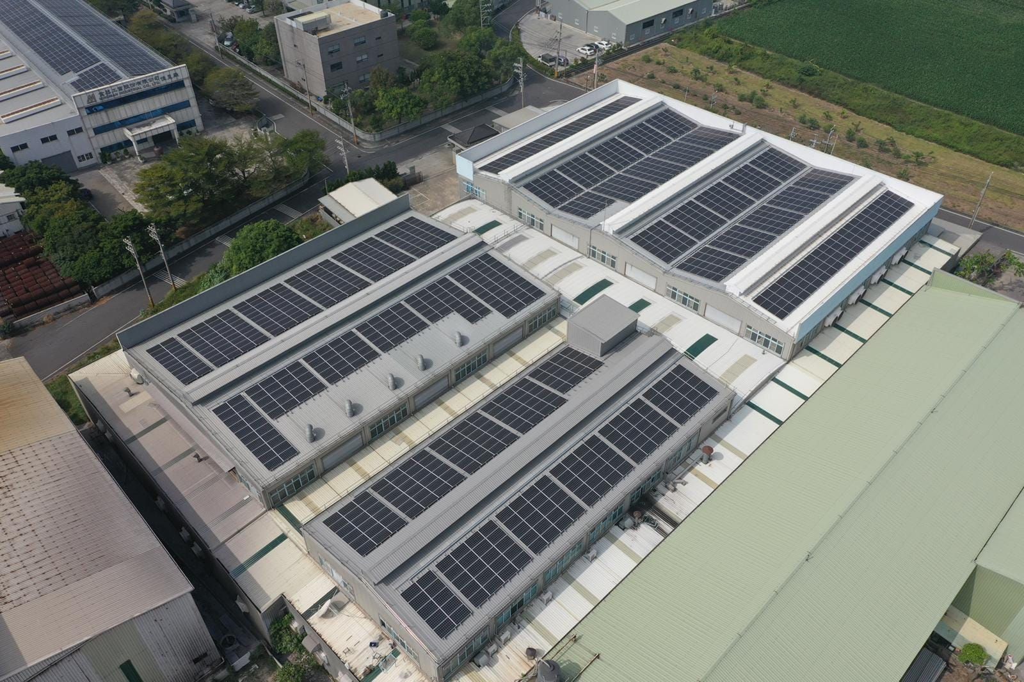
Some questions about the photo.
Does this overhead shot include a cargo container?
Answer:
No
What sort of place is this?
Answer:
industrial area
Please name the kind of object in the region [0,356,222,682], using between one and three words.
warehouse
